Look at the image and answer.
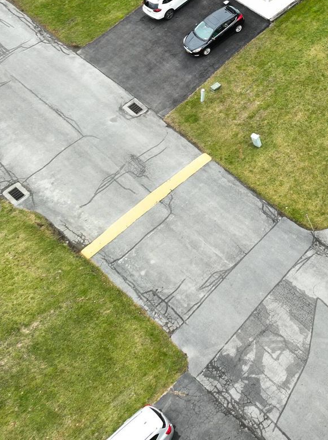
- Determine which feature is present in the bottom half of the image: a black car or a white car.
white car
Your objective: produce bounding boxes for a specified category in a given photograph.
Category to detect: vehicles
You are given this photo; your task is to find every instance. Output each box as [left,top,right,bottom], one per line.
[185,4,245,57]
[143,0,192,20]
[106,407,177,440]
